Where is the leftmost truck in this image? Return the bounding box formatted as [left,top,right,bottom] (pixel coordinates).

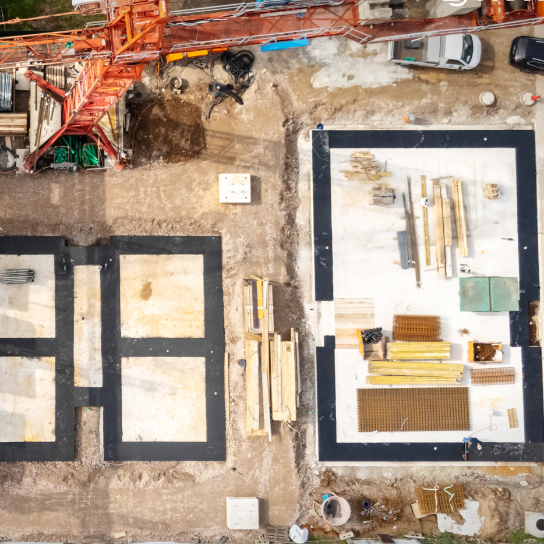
[386,33,482,75]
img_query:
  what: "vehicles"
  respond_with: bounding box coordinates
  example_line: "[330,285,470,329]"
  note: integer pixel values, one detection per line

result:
[509,34,544,76]
[386,33,482,75]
